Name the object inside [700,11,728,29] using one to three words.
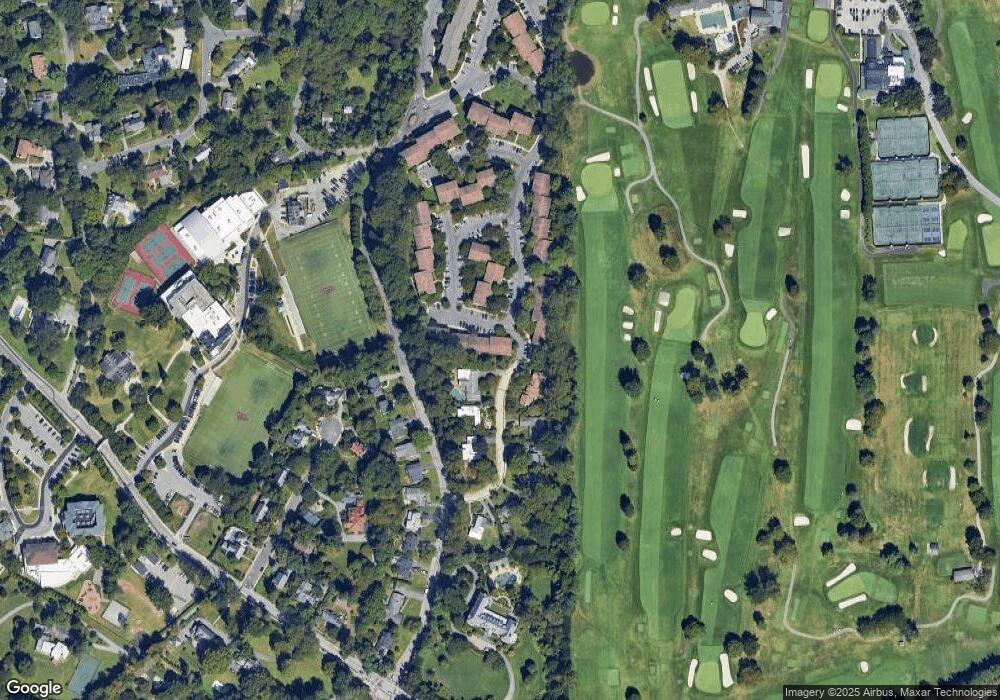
swimming pool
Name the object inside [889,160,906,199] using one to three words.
tennis court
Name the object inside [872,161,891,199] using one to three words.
tennis court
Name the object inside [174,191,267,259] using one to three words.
building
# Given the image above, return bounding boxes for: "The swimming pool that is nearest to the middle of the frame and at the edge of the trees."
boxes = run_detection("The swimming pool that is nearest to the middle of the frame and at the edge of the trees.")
[451,387,466,402]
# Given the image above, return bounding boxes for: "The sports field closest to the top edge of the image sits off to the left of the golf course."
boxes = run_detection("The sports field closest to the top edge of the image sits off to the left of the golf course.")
[280,222,372,349]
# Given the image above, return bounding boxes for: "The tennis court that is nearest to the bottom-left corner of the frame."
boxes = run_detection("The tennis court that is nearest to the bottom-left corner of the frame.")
[68,655,100,693]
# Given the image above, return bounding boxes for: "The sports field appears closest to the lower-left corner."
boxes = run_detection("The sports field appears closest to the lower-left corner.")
[184,350,293,475]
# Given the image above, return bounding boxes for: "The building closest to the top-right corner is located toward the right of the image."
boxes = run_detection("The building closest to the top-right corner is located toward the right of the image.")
[865,34,905,91]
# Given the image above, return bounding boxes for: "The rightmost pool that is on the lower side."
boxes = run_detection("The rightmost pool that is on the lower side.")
[495,573,518,586]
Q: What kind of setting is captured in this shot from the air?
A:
golf course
